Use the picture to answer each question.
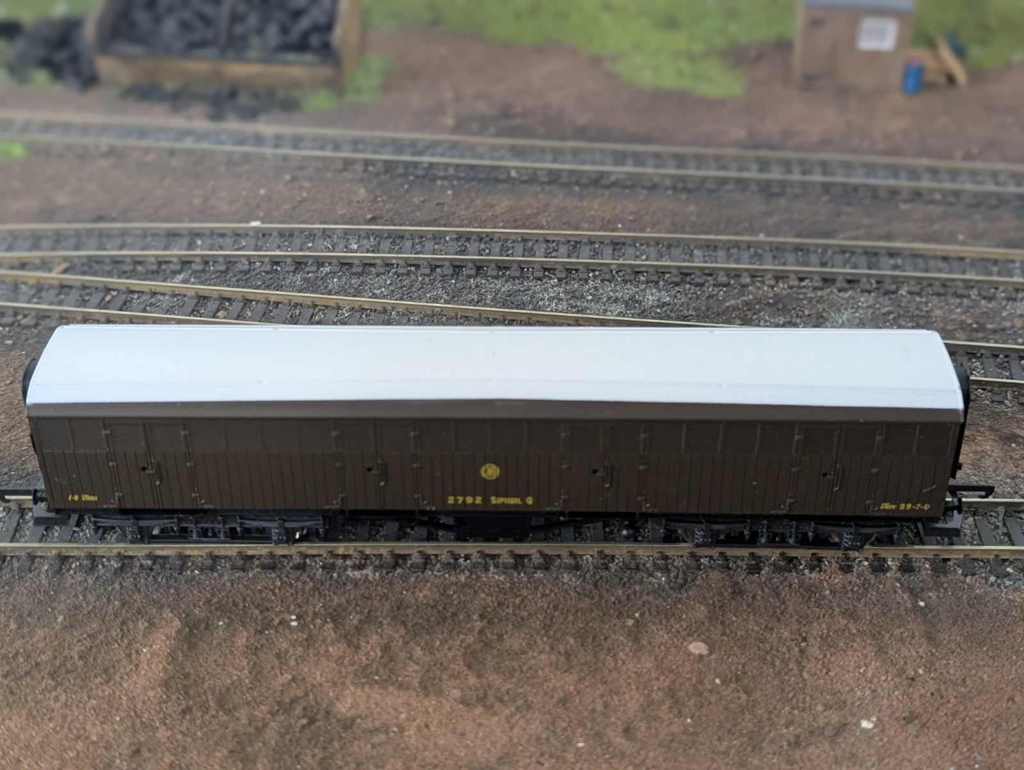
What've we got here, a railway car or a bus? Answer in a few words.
railway car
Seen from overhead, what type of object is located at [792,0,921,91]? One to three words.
shed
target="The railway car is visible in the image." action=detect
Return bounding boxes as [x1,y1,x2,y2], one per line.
[6,324,994,552]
